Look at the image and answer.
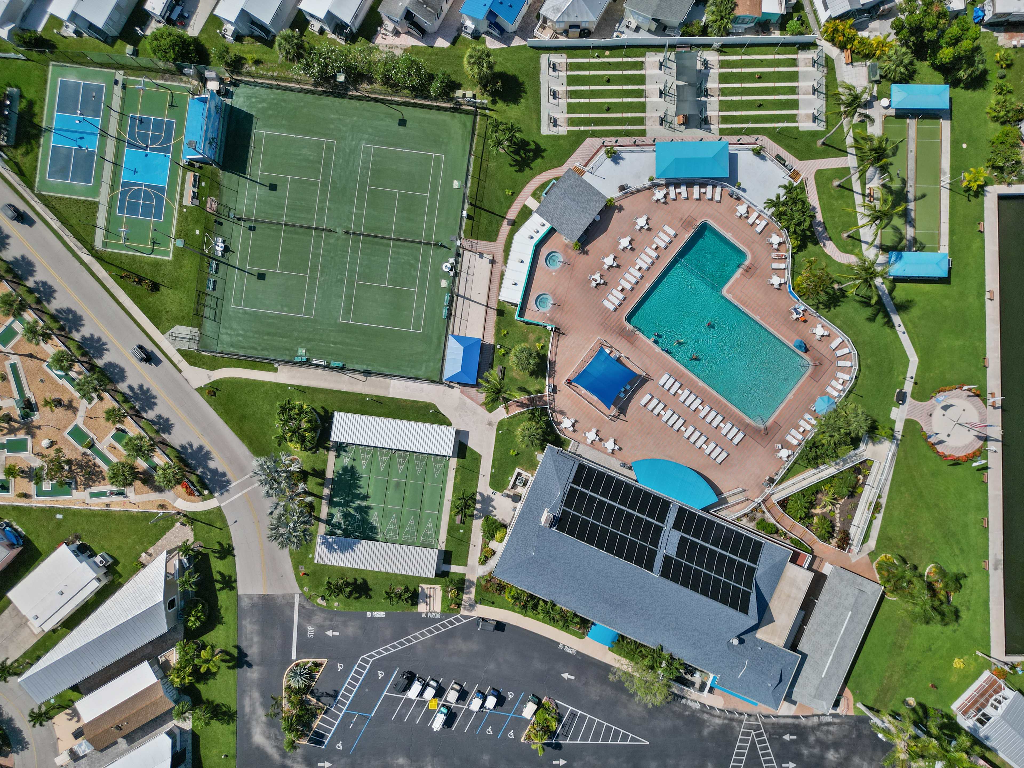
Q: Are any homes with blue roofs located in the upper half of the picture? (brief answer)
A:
Yes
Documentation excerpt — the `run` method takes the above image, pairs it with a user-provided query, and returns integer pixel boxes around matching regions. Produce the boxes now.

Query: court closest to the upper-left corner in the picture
[35,64,115,199]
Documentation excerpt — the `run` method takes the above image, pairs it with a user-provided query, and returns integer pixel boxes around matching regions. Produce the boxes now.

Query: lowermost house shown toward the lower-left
[105,725,181,768]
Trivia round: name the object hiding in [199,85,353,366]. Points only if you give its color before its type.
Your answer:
green tennis court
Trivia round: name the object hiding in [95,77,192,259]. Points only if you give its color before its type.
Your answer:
green sports court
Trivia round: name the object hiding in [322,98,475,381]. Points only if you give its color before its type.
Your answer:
green tennis court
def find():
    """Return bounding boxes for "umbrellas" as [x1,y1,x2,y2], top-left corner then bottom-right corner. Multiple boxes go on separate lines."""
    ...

[793,340,807,352]
[814,395,834,414]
